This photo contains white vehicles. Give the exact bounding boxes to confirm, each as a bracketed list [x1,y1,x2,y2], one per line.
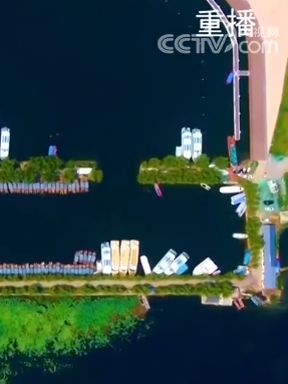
[268,179,279,195]
[263,206,274,212]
